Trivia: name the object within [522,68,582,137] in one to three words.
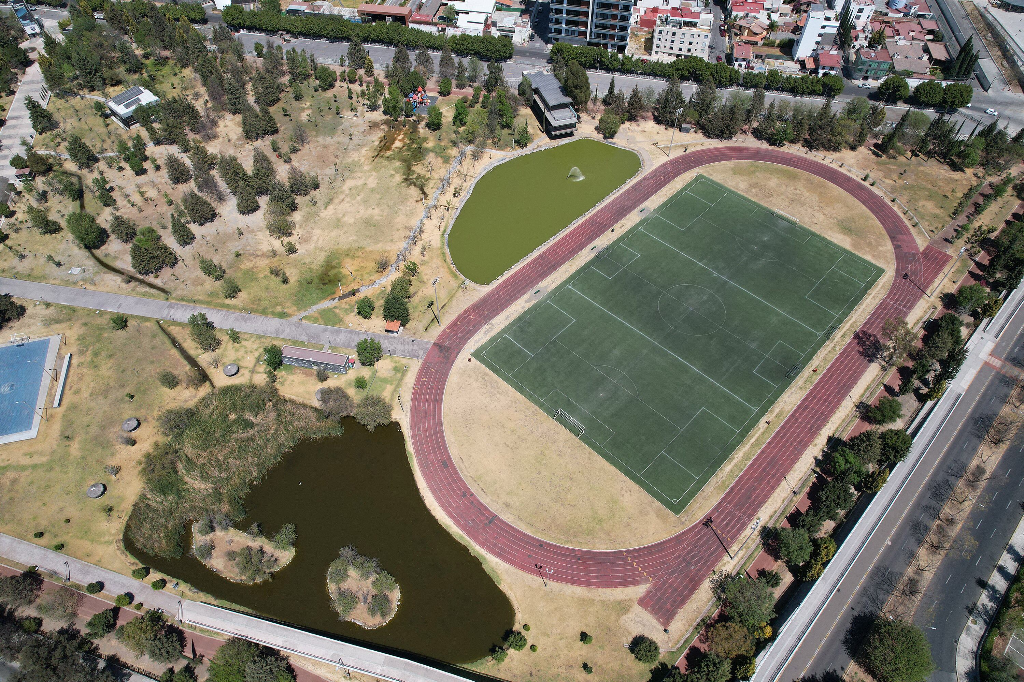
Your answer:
building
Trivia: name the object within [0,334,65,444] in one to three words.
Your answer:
sports court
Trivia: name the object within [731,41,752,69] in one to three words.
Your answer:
house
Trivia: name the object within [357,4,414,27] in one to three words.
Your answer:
building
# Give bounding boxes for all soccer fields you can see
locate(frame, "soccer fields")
[469,173,886,518]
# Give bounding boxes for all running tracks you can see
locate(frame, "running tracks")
[407,146,953,628]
